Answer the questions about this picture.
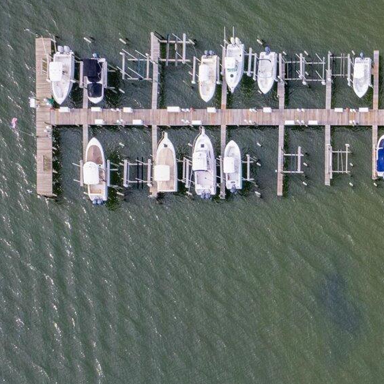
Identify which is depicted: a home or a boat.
boat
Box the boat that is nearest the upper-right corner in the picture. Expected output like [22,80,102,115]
[353,49,371,97]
